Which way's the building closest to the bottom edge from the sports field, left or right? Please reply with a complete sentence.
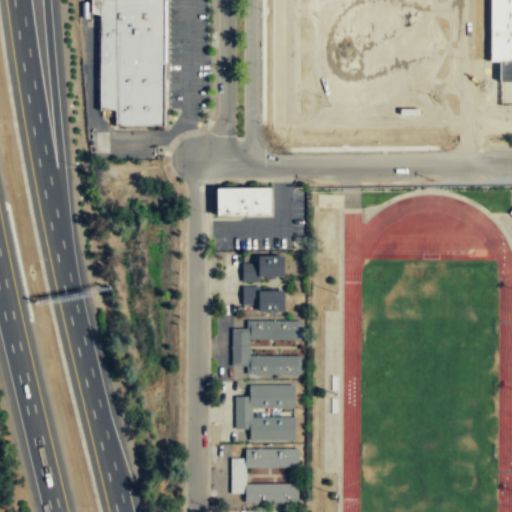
The building closest to the bottom edge appears to the left of the sports field in this view.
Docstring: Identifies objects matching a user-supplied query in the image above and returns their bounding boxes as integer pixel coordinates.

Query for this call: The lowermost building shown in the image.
[232,449,300,502]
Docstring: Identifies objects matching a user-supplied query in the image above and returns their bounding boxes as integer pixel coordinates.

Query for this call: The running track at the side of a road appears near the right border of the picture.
[345,195,512,512]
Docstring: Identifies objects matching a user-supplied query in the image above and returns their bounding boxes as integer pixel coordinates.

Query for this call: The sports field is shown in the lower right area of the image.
[362,261,499,512]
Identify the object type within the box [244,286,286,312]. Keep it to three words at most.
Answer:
house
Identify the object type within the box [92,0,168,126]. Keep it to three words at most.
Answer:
building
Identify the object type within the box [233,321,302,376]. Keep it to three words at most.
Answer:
building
